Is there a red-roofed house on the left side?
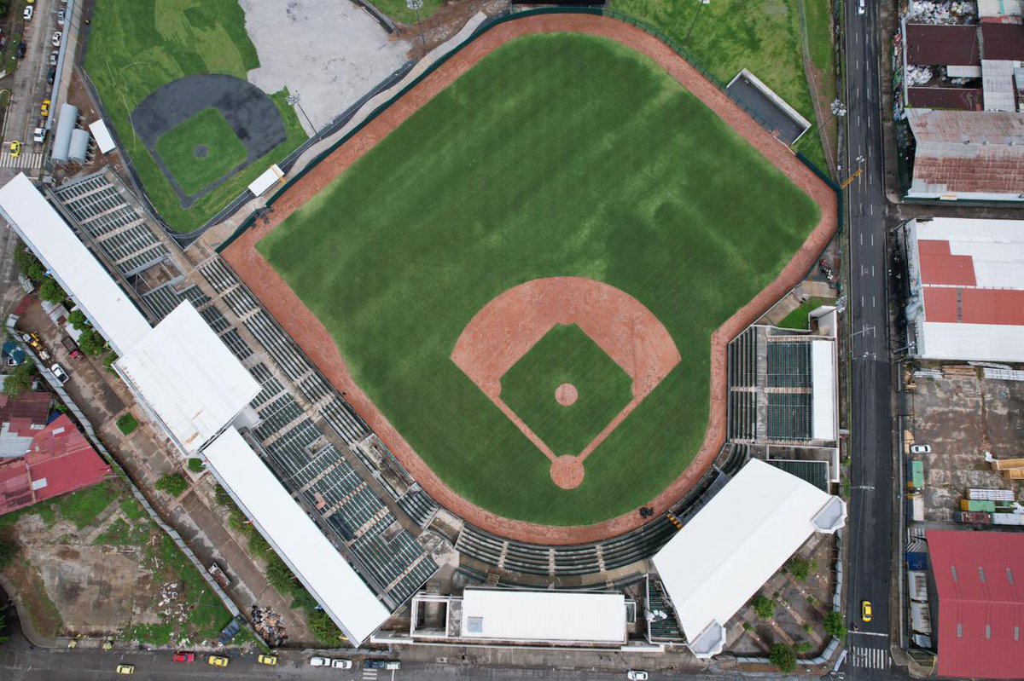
Yes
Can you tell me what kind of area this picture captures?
sports ground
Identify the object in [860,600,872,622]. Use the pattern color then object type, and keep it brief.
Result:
yellow vehicle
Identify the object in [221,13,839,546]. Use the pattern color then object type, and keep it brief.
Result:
green baseball field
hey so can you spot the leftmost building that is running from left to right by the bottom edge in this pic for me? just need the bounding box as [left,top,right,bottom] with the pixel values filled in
[407,587,630,652]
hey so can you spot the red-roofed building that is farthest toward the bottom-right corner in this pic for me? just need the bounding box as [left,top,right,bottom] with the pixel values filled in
[915,524,1024,680]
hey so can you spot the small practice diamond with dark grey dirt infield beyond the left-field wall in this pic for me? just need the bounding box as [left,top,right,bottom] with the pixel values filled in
[81,0,414,239]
